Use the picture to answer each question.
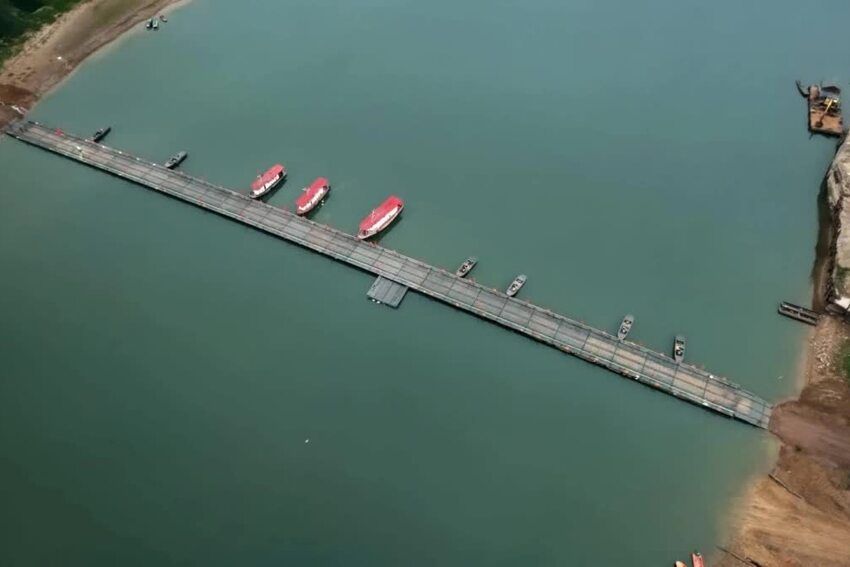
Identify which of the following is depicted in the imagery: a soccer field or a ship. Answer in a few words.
ship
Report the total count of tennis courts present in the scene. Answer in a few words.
0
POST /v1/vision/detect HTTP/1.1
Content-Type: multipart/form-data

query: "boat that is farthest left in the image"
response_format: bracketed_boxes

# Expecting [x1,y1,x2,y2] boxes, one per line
[91,128,111,143]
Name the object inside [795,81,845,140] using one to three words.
ship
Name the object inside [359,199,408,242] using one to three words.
boat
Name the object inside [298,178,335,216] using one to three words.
boat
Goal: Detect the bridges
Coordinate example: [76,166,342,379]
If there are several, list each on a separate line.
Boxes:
[0,115,775,431]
